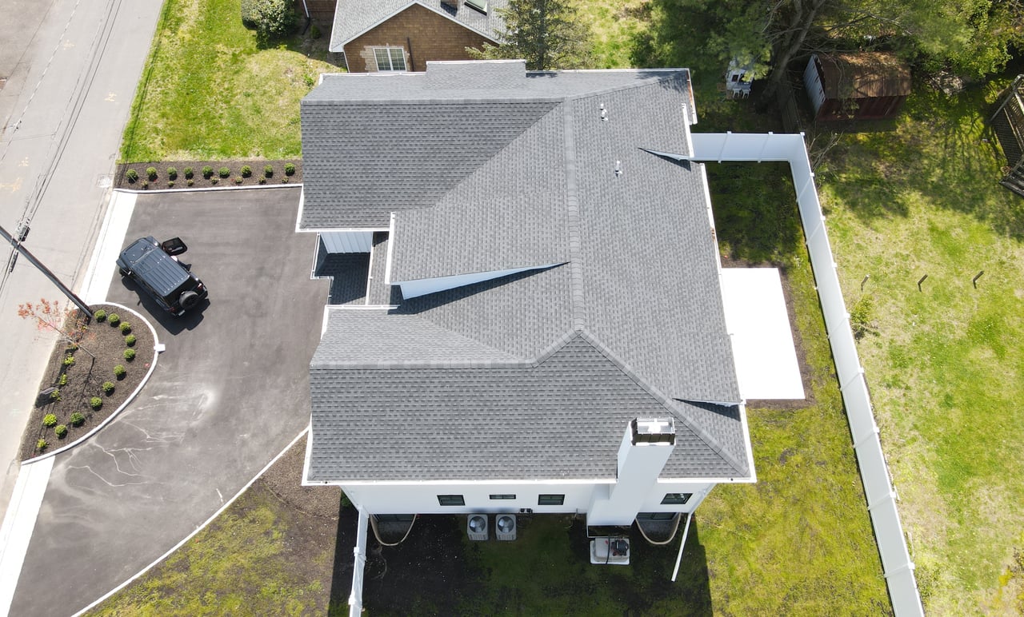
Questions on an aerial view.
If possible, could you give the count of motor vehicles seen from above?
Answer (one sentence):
The count comes to 1 motor vehicle.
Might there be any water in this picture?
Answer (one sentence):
No, water can't be seen anywhere here.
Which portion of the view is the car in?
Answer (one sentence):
The car appears toward the left of the photo.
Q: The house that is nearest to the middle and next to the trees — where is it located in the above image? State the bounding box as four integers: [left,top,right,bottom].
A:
[293,55,759,538]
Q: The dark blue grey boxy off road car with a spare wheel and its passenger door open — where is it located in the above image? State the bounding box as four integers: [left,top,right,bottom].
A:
[120,237,210,319]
